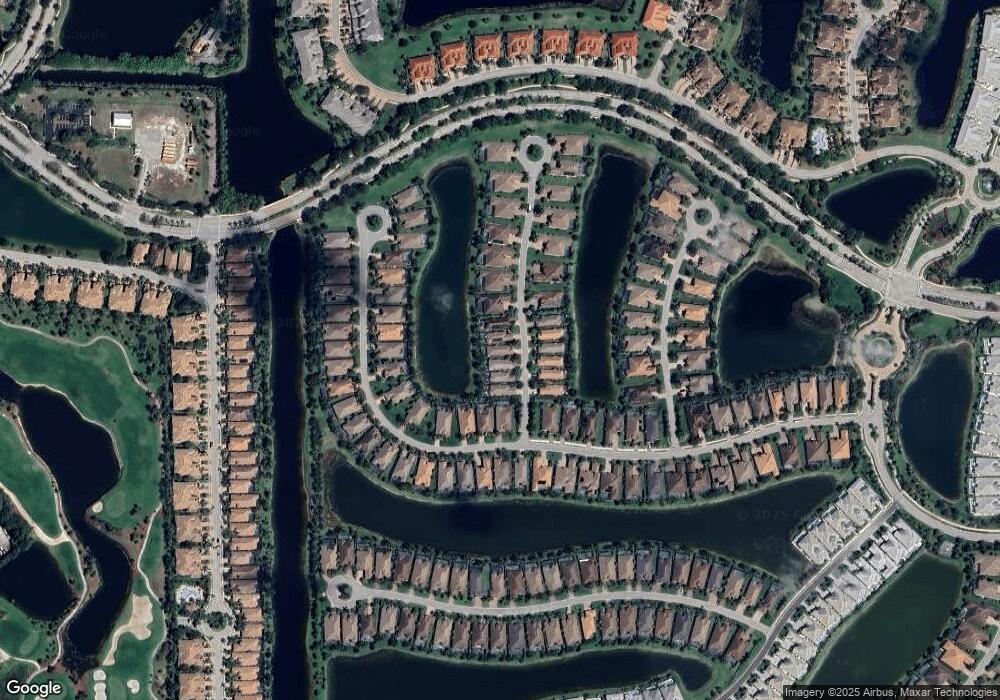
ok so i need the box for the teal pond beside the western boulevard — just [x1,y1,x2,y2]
[0,167,124,253]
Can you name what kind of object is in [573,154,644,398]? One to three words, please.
pond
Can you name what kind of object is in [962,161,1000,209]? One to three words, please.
roundabout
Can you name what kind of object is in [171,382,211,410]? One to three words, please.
house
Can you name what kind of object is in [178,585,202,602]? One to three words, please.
swimming pool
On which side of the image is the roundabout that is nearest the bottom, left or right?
right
